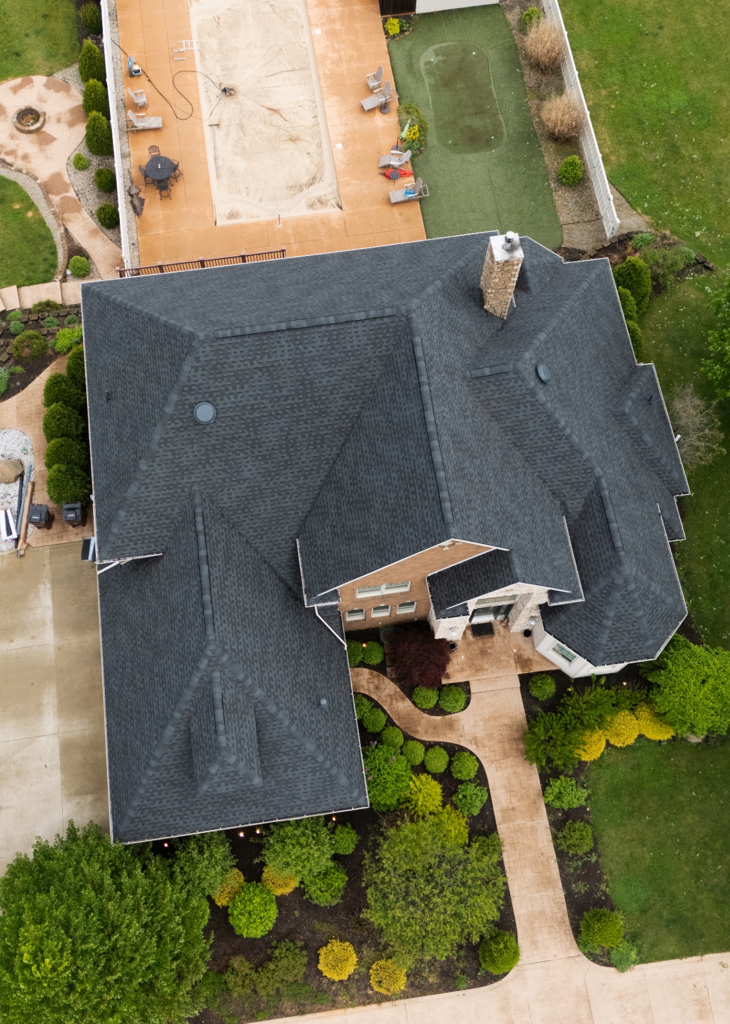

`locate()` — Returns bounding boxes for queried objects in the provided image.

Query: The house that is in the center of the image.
[77,229,693,846]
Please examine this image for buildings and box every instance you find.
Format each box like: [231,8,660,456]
[379,0,499,17]
[77,229,693,846]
